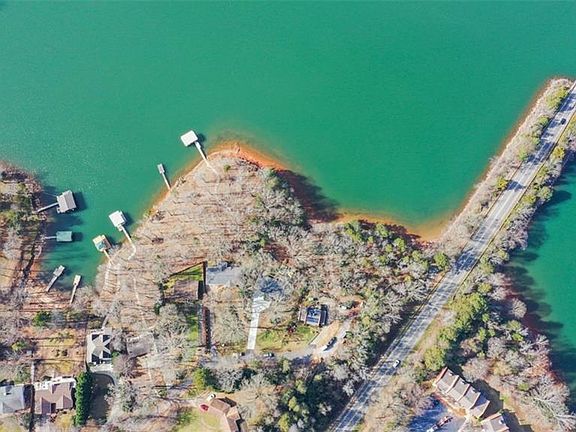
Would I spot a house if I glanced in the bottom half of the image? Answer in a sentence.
Yes, in the bottom half of the image there is a house.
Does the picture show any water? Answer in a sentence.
Yes, there's water in this view.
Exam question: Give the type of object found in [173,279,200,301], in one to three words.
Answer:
house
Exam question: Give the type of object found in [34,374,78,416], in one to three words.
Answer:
house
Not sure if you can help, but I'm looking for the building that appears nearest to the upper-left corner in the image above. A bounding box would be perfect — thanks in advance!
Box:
[44,190,76,213]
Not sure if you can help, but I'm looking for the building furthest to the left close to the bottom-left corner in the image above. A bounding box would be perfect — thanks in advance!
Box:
[0,384,30,415]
